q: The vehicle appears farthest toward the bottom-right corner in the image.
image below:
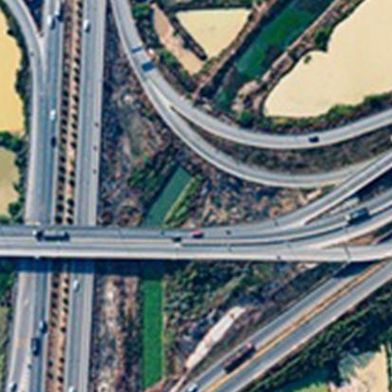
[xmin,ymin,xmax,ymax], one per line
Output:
[223,345,255,370]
